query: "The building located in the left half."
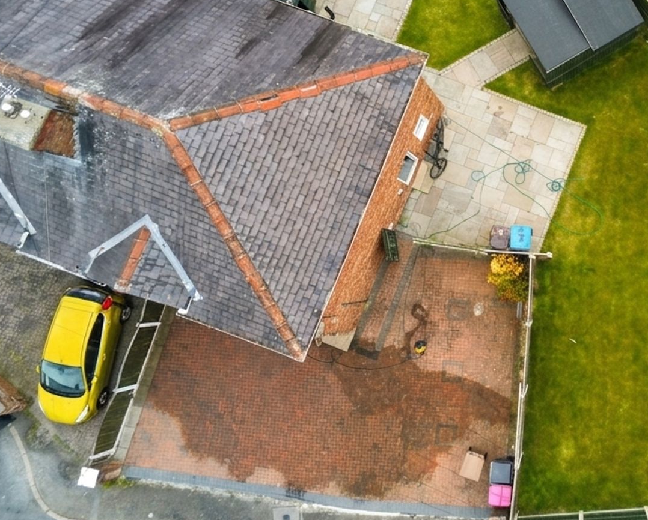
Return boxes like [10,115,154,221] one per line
[0,0,440,364]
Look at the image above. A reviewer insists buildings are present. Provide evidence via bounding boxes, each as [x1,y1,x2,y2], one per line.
[504,0,641,85]
[0,0,440,364]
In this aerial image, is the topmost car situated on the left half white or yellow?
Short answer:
yellow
